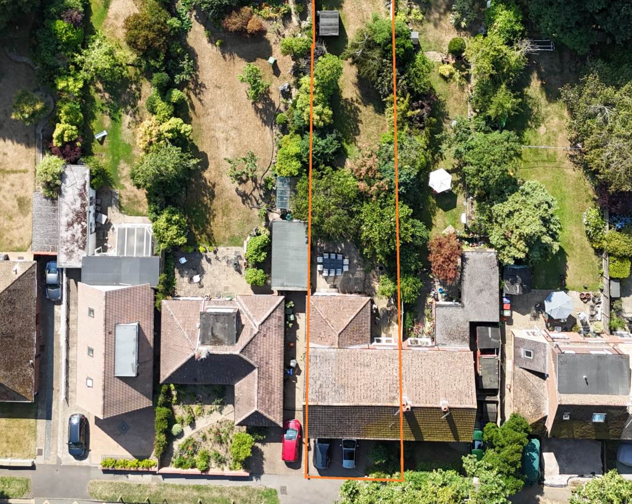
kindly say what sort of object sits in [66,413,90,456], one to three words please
car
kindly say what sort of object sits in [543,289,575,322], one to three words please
umbrella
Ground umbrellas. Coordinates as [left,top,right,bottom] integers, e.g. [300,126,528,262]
[543,289,575,322]
[429,167,452,193]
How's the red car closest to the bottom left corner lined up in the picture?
up and down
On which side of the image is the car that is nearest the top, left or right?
left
